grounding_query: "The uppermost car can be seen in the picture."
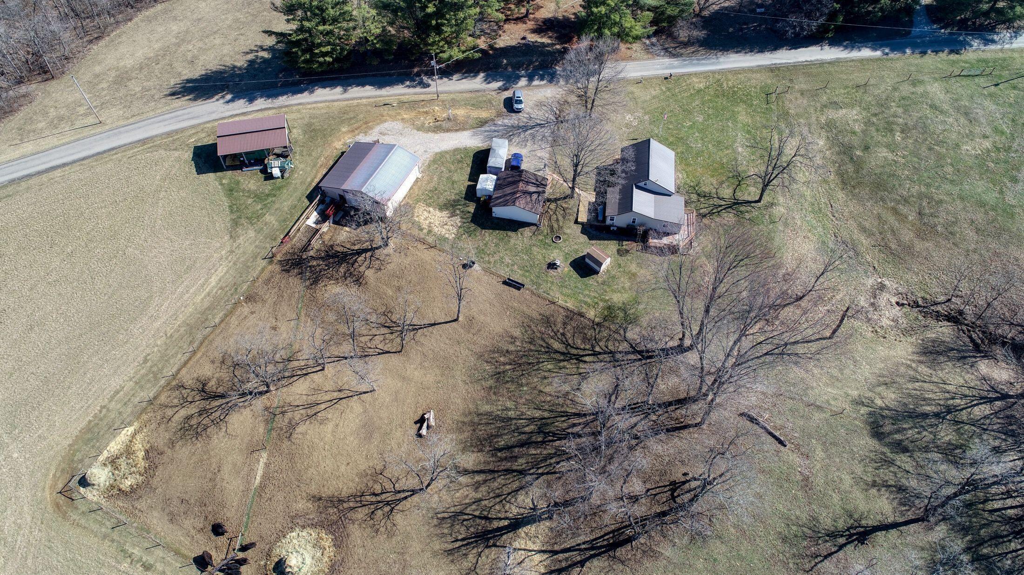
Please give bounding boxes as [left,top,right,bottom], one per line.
[512,90,524,109]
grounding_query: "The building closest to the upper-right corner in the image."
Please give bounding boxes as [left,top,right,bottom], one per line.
[594,138,697,251]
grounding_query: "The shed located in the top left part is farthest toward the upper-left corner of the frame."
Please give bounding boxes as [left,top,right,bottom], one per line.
[216,113,291,169]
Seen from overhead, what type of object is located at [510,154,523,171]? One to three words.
vehicle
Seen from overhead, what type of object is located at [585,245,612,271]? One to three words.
shed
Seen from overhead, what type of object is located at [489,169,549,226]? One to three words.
building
